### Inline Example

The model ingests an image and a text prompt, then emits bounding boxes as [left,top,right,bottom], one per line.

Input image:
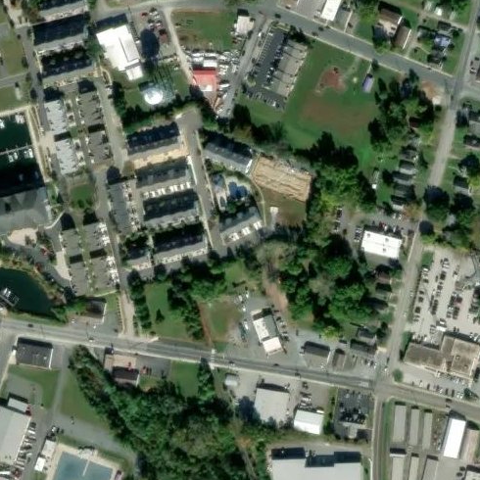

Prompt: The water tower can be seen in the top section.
[142,80,173,108]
